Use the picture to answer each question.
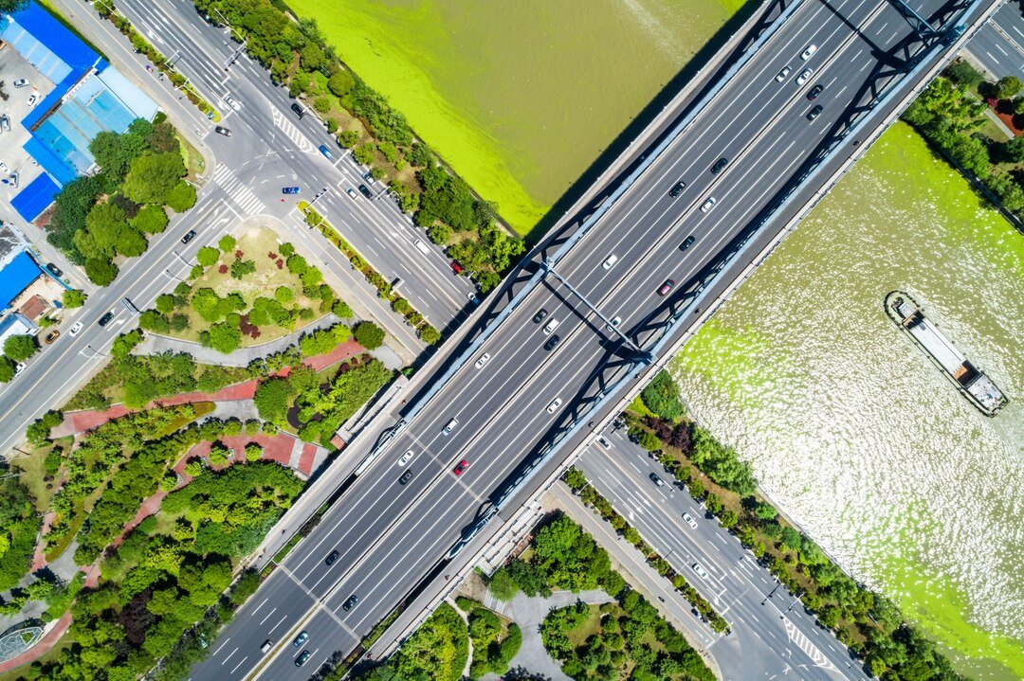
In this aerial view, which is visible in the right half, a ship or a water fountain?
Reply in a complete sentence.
It is a ship that can be seen in the right half.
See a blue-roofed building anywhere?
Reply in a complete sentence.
Yes, you can see a blue-roofed building in this photo.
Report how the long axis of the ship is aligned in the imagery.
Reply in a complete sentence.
The ship has been laid out on a diagonal relative to the frame.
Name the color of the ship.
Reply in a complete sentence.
From above, the ship appears white.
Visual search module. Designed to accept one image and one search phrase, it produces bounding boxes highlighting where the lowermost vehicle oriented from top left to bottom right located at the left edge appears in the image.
[46,261,64,279]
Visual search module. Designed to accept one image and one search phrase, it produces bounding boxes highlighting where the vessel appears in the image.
[880,290,1010,417]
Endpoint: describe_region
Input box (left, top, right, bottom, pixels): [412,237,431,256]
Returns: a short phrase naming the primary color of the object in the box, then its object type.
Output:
white vehicle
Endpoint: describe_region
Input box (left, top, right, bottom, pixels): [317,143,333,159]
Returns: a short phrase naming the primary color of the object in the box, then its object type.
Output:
blue car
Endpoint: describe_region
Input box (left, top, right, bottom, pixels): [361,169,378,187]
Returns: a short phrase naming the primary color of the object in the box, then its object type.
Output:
white car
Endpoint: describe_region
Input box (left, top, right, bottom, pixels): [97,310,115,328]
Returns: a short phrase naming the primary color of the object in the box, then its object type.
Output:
black car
